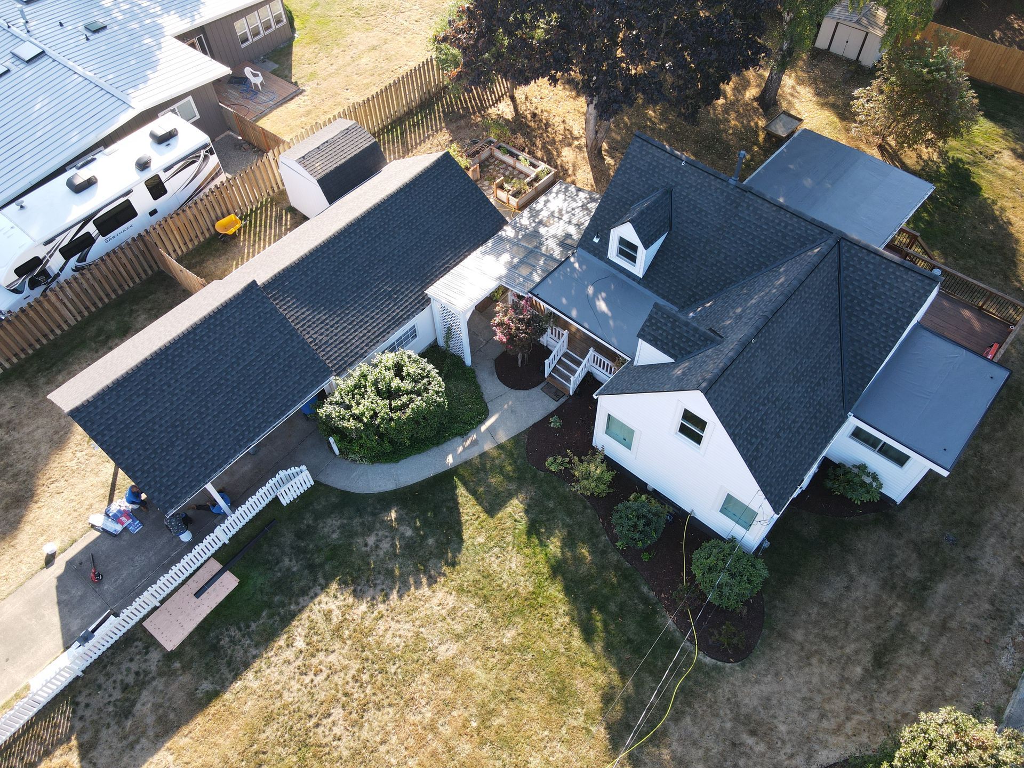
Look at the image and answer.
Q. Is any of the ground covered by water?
No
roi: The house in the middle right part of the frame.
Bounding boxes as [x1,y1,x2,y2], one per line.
[527,128,1011,544]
